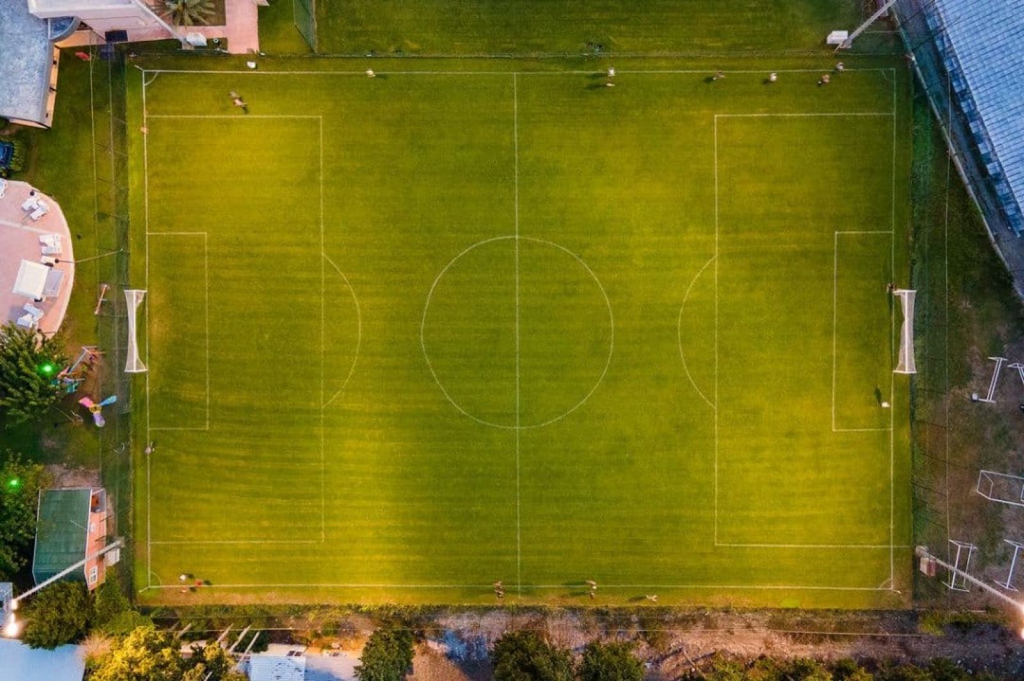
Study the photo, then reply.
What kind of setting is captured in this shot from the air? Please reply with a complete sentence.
The picture captures a sports ground.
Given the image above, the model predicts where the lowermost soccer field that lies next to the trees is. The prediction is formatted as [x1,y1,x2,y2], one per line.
[129,56,912,606]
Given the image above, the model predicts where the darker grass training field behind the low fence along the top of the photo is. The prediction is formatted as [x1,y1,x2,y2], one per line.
[316,0,891,53]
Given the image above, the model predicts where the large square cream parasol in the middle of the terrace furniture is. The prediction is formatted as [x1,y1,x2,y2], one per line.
[14,260,49,299]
